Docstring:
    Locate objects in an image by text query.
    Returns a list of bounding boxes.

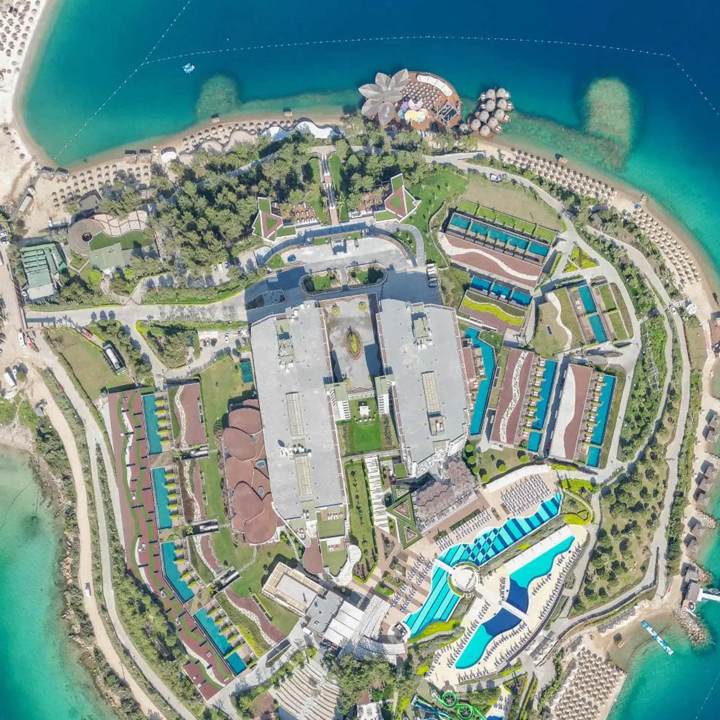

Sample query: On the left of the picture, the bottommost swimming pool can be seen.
[227,652,246,673]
